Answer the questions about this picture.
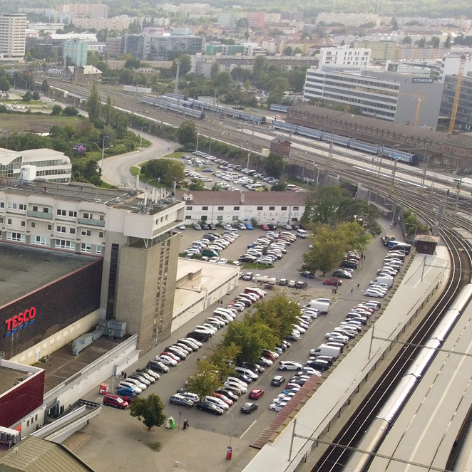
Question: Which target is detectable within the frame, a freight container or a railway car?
railway car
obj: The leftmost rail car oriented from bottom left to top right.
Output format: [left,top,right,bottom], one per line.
[340,419,391,472]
